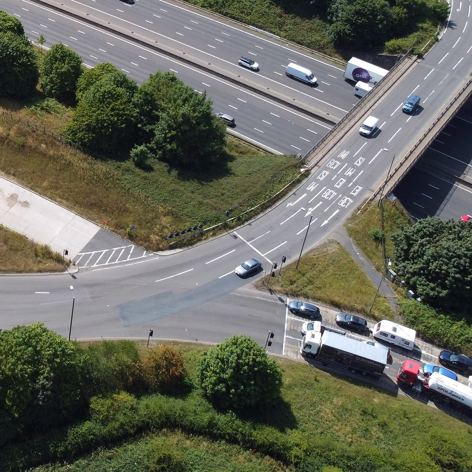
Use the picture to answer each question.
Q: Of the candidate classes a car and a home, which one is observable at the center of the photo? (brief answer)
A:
car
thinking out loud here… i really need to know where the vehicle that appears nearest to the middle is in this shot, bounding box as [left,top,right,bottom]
[235,258,262,275]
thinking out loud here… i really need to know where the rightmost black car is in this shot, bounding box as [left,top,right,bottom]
[441,352,472,372]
